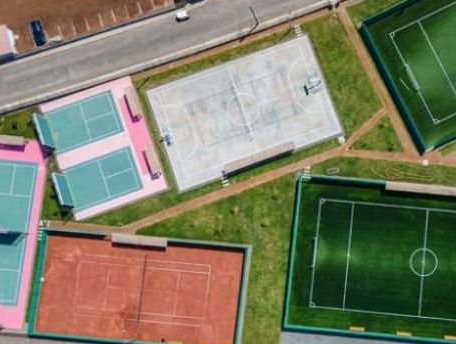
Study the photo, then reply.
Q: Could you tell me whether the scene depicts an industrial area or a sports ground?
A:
sports ground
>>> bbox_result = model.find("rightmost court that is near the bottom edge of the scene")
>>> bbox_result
[32,233,247,344]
